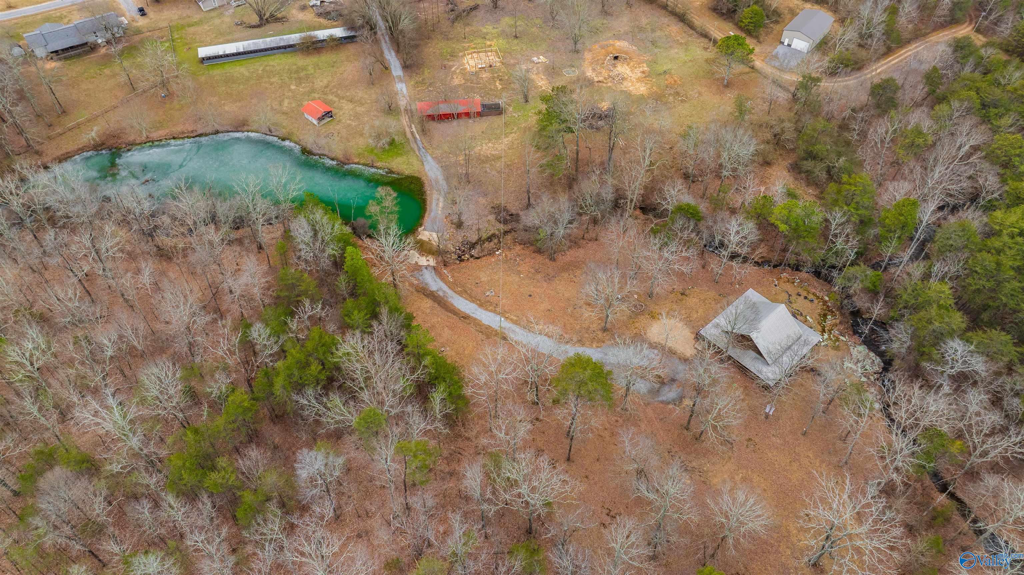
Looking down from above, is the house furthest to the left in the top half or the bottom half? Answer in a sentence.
You can find the house furthest to the left in the top half.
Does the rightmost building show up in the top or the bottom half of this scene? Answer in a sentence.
The rightmost building sits in the top half of the picture.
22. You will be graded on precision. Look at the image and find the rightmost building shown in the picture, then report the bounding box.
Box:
[779,10,834,51]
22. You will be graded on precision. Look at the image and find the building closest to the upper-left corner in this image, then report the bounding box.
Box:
[23,14,130,61]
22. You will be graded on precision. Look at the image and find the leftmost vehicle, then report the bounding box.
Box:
[135,6,147,18]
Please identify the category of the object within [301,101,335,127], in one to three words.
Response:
shed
